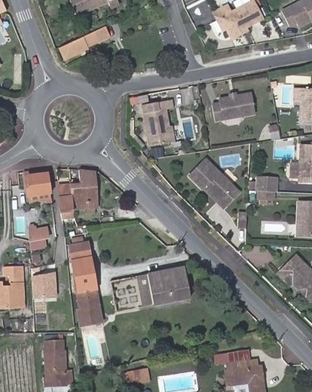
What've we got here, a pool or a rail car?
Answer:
pool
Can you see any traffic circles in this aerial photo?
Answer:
Yes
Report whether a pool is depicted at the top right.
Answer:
Yes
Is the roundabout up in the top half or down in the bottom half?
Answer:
top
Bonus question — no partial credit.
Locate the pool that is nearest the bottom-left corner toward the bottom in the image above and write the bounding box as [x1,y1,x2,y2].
[82,324,110,365]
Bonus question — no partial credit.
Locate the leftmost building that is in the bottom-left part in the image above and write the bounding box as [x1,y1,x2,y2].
[0,266,26,310]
